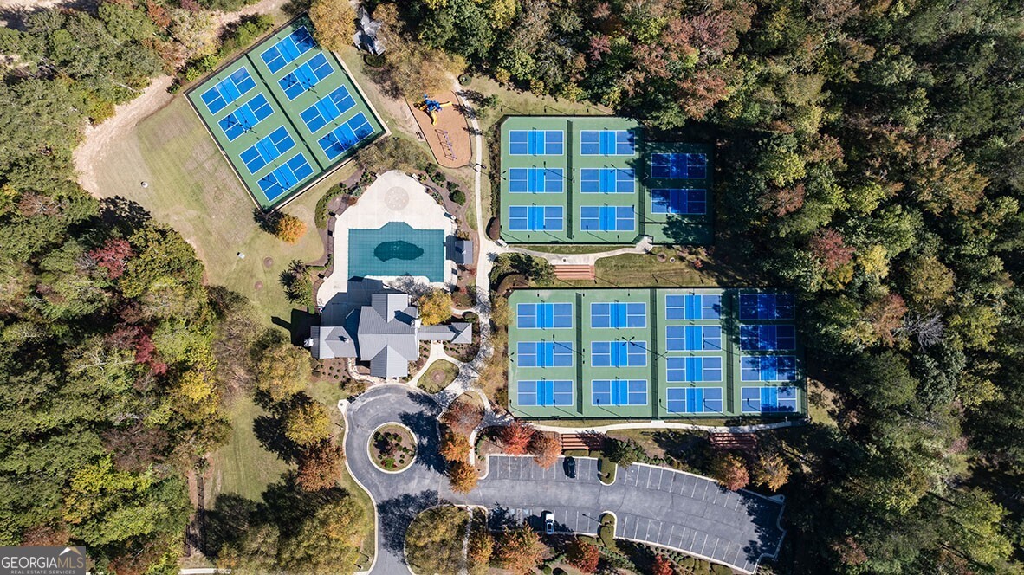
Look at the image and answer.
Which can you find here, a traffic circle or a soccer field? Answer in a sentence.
This aerial view contains a traffic circle.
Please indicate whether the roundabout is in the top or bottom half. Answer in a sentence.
The roundabout is in the bottom half of the image.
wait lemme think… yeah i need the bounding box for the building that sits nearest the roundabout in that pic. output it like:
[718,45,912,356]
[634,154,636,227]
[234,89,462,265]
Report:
[306,293,472,380]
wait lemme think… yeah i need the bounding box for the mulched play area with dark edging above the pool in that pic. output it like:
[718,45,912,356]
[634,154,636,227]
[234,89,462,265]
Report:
[404,86,472,168]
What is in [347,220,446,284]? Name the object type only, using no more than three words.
swimming pool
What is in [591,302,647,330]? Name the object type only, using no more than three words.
sports court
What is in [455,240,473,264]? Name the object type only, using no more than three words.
building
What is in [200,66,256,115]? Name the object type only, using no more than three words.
sports court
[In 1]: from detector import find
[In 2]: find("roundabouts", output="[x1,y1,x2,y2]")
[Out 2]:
[344,386,445,497]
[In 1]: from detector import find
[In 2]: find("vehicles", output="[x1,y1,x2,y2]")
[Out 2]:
[567,459,576,478]
[546,514,554,534]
